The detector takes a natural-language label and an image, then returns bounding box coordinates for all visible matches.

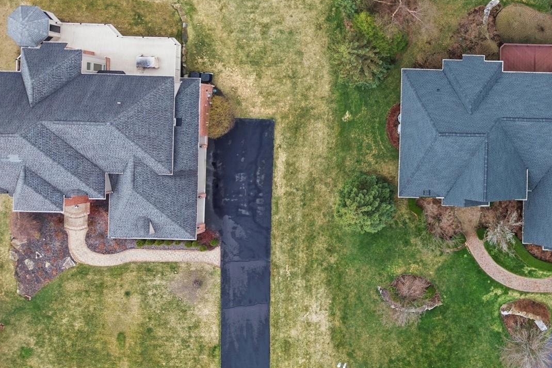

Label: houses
[0,41,219,240]
[397,55,552,256]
